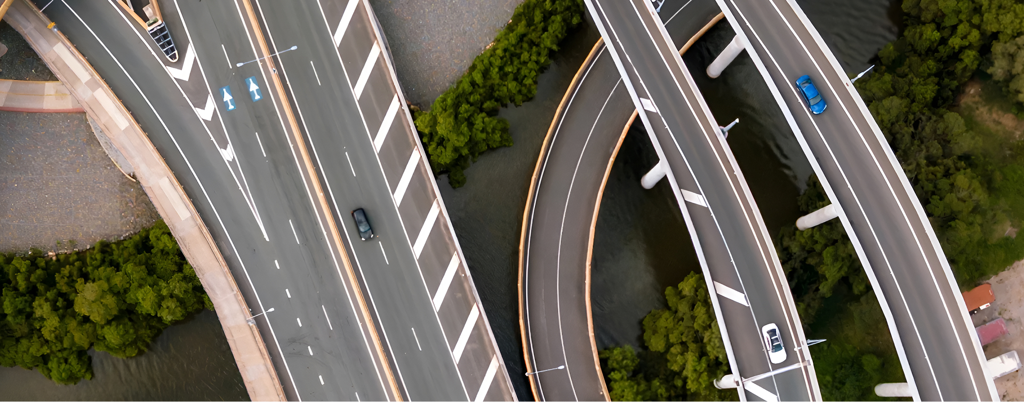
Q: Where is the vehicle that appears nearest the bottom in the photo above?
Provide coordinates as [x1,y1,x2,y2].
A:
[988,347,1022,376]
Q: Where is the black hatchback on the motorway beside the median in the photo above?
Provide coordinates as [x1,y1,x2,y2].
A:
[352,207,374,242]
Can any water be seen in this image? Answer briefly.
Yes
